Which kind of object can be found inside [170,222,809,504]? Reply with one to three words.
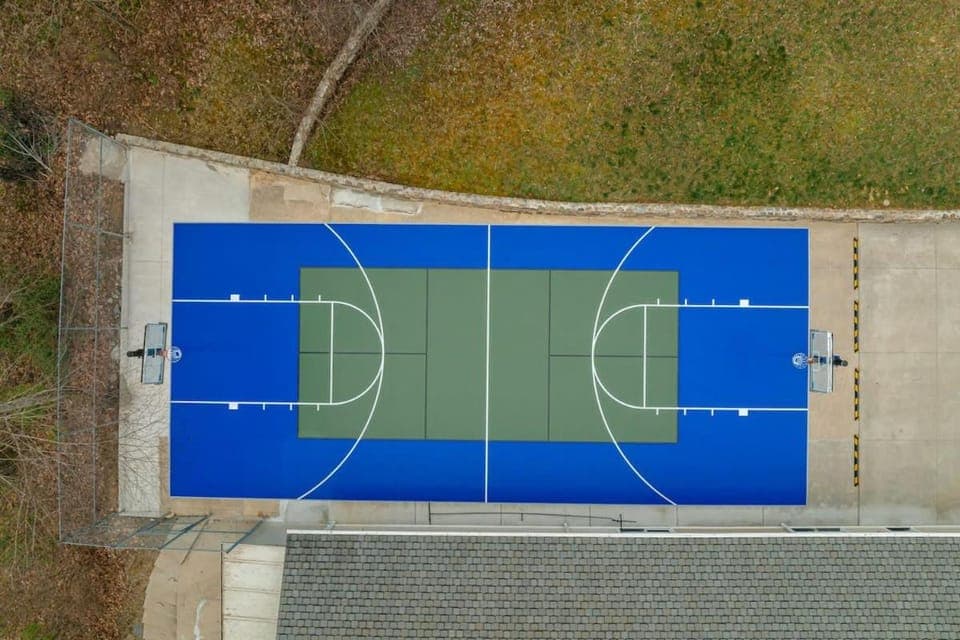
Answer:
basketball court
